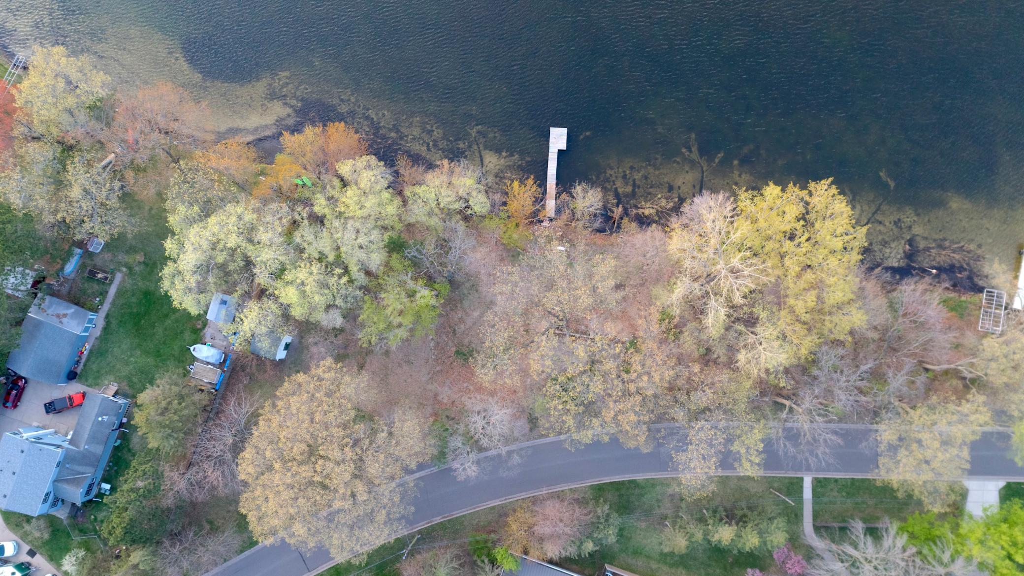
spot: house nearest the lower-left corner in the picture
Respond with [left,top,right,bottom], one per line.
[0,394,136,517]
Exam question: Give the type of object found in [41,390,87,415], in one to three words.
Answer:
truck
